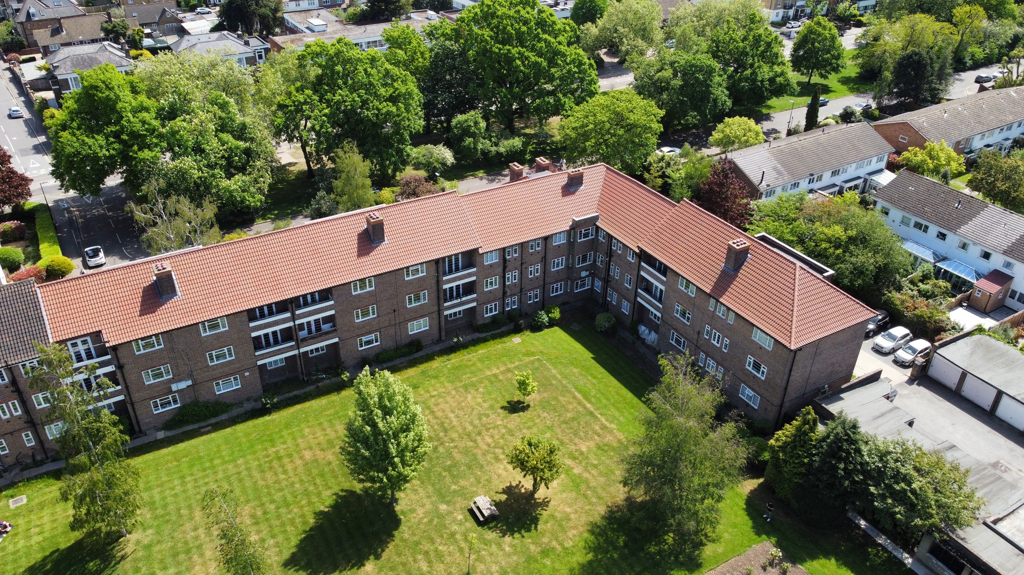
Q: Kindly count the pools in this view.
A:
0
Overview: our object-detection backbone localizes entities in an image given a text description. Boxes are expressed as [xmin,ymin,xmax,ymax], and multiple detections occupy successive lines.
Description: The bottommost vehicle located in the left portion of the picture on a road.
[82,243,108,266]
